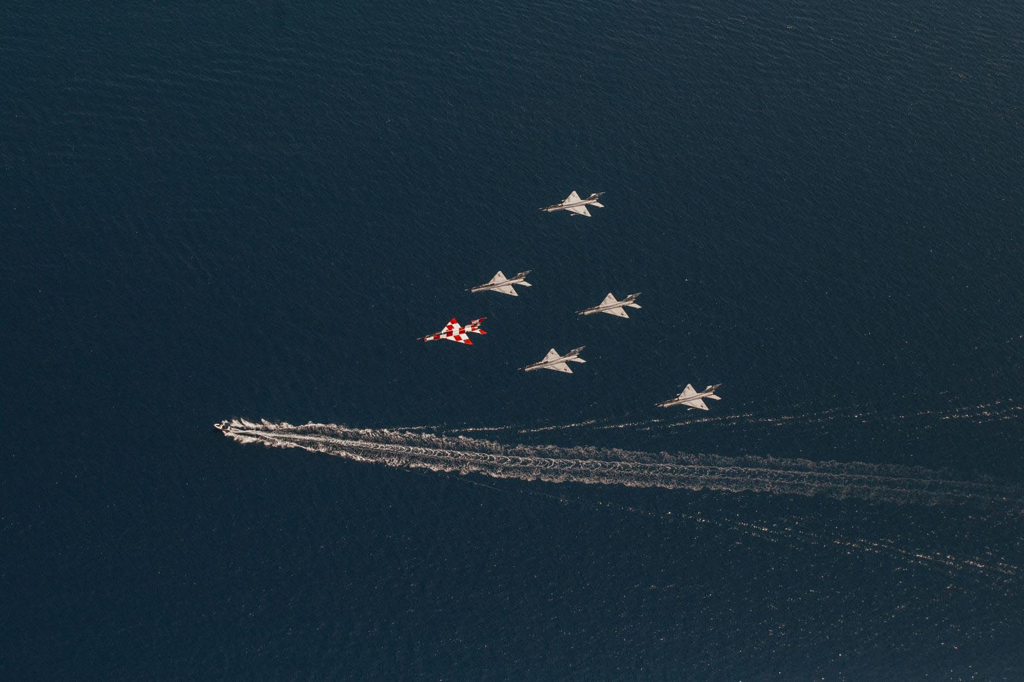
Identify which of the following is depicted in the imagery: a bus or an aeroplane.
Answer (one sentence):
I can see an aeroplane in this picture.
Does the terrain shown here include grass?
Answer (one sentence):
No, the scene doesn't show any grass.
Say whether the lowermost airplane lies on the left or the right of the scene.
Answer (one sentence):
The lowermost airplane is on the right side of the image.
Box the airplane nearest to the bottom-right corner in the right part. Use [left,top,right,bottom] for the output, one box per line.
[656,384,720,410]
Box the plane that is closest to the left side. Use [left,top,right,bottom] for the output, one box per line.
[419,318,486,344]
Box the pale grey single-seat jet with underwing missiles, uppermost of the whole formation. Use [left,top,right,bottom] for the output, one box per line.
[540,191,605,217]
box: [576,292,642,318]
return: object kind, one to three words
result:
airplane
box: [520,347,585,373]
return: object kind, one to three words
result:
airplane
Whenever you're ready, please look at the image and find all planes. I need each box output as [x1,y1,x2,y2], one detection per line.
[576,292,642,318]
[540,191,605,217]
[465,270,531,296]
[656,384,720,410]
[520,347,585,373]
[419,318,486,344]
